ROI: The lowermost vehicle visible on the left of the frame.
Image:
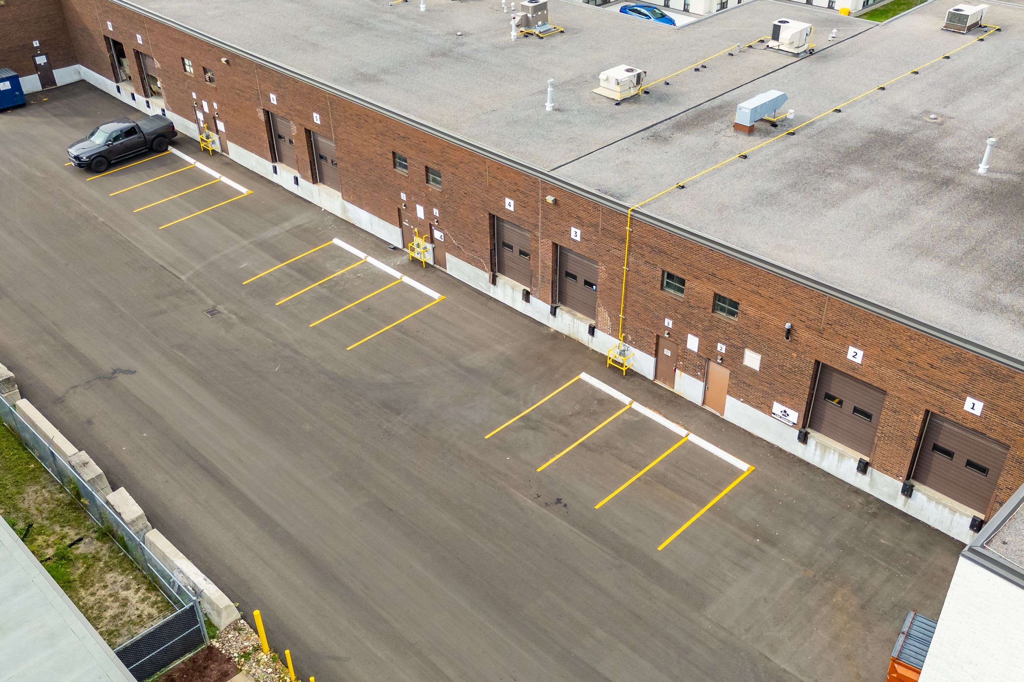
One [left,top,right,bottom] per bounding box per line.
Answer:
[63,115,178,173]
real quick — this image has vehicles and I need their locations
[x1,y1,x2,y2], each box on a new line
[63,115,178,173]
[613,3,673,24]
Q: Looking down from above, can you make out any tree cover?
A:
No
